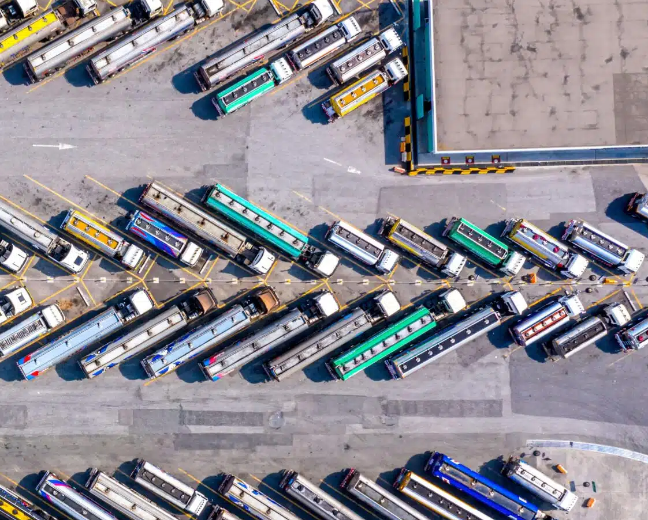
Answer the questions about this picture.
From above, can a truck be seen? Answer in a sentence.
Yes, the picture does show a truck.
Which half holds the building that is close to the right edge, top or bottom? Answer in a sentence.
It is in the top half that the building that is close to the right edge appears.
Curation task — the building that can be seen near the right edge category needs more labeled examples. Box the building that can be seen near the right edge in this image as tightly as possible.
[414,0,648,156]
